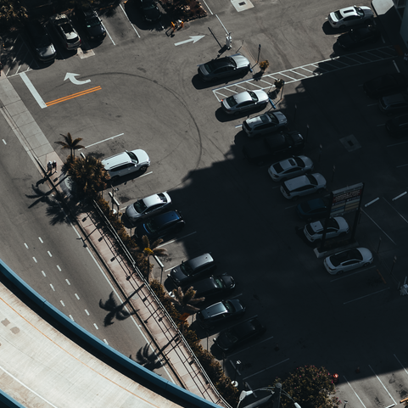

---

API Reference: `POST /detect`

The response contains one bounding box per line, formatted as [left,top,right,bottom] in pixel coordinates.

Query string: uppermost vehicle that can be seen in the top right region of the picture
[325,3,376,32]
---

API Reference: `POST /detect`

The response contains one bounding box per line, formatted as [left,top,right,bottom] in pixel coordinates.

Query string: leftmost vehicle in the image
[21,23,58,65]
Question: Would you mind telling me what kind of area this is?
parking lot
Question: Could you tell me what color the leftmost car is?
black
